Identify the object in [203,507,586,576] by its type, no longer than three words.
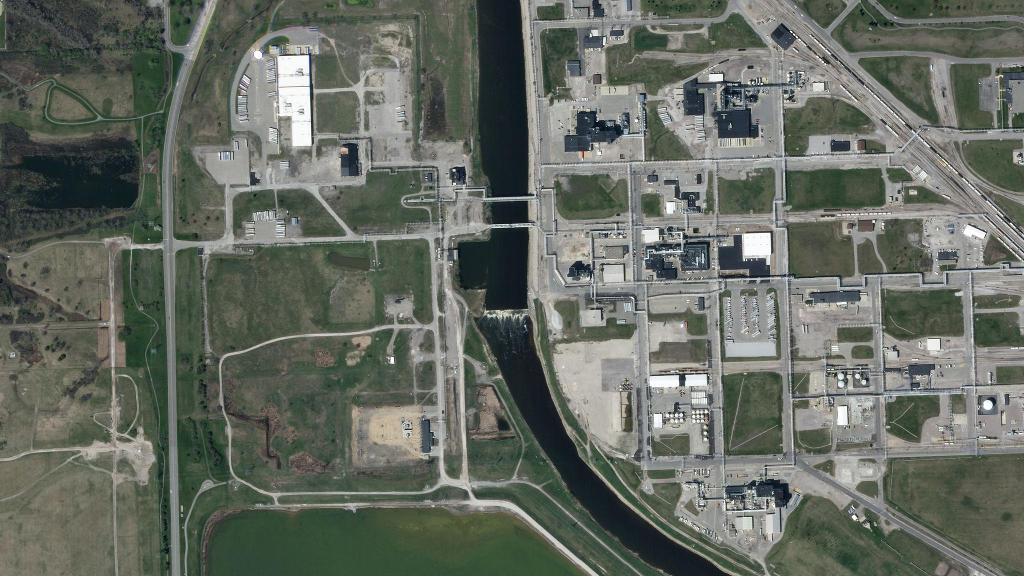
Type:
pond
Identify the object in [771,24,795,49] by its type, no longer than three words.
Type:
building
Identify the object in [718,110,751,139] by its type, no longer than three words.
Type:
building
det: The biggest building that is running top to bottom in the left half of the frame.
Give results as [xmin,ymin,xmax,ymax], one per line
[277,55,311,146]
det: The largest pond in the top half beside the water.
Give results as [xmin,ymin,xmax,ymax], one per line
[3,146,139,209]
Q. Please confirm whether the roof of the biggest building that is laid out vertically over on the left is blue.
No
